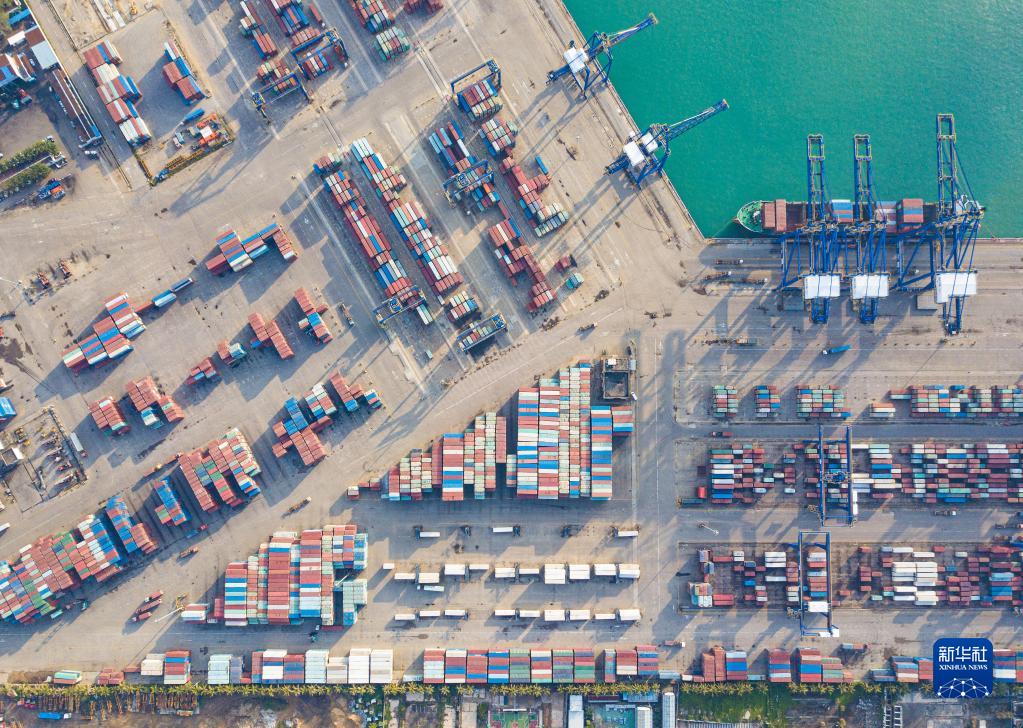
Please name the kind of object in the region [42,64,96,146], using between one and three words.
building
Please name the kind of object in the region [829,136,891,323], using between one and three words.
container crane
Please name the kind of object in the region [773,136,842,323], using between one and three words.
container crane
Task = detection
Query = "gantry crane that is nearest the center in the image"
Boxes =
[459,315,506,354]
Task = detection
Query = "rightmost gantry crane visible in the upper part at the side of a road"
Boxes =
[893,115,987,334]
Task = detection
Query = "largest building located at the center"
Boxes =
[602,358,631,398]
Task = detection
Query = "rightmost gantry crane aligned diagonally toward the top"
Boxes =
[603,97,732,194]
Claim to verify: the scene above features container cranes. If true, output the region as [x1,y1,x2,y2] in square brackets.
[291,31,344,82]
[257,73,313,122]
[459,315,506,354]
[800,426,856,530]
[453,60,499,111]
[603,97,732,194]
[377,291,426,330]
[780,534,844,642]
[544,12,660,104]
[893,115,987,334]
[829,136,891,323]
[773,136,842,323]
